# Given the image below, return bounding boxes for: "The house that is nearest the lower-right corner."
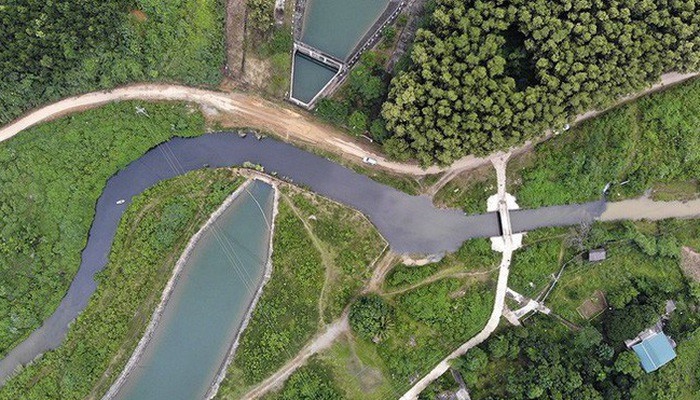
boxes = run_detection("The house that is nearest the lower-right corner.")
[621,320,676,372]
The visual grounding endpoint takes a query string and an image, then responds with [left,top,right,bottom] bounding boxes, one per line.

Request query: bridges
[485,191,522,255]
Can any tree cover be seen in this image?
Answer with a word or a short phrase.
Yes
